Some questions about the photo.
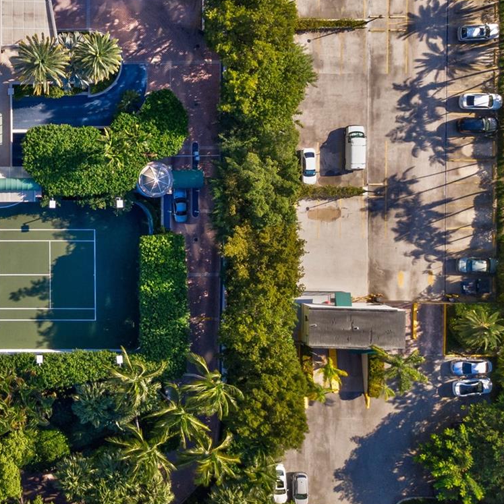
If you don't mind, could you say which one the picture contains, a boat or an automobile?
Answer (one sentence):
Of the two, only an automobile appears.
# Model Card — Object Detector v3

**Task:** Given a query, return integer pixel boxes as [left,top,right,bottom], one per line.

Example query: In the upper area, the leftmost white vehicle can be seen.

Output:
[301,149,318,183]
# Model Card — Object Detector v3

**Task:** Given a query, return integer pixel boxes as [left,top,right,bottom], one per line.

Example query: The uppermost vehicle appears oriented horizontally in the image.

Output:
[458,22,497,41]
